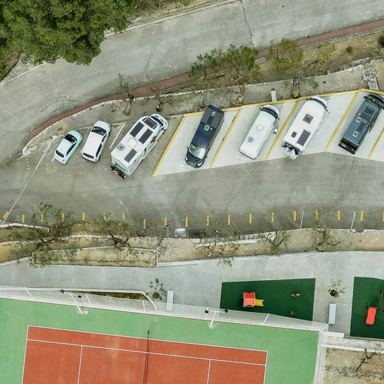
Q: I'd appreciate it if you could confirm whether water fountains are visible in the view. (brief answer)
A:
No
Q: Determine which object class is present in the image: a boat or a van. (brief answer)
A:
van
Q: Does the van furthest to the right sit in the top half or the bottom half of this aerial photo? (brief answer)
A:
top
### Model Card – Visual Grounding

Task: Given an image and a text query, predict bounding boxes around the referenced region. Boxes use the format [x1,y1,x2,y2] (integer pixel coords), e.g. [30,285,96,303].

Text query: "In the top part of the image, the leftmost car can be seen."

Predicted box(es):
[54,129,83,165]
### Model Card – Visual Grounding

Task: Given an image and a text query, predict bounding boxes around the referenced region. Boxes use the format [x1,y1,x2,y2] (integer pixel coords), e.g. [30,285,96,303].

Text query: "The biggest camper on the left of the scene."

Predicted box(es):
[111,112,170,175]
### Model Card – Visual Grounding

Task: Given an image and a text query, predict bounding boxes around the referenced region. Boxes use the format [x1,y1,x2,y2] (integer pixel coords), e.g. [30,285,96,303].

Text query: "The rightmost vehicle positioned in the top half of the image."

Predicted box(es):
[339,91,384,155]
